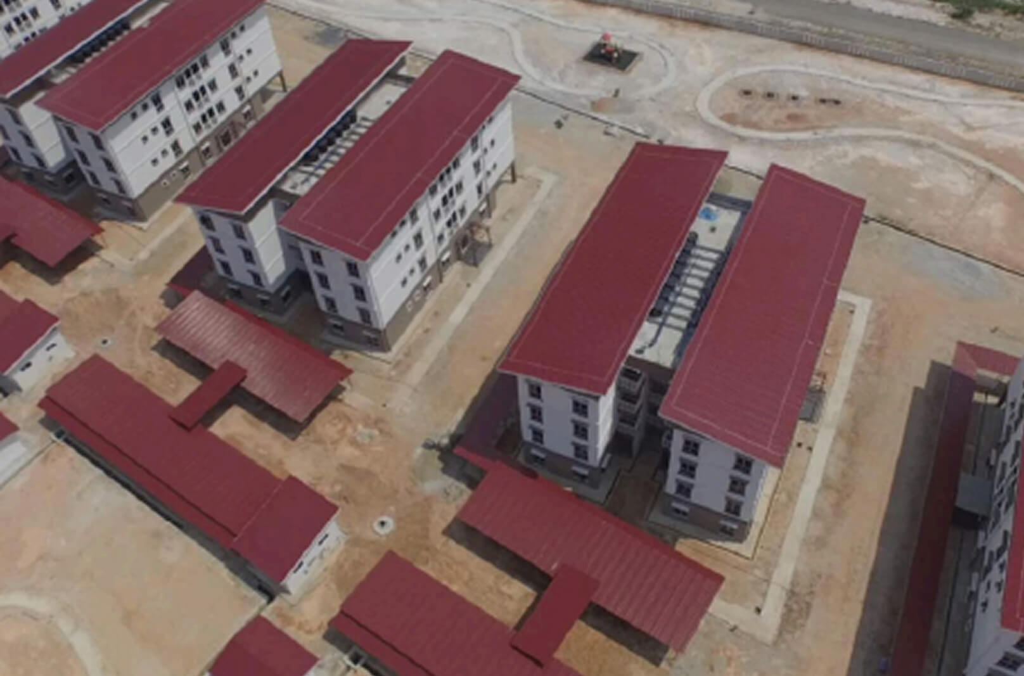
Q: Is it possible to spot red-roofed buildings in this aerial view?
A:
Yes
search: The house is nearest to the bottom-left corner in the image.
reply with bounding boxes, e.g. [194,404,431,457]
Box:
[0,416,41,485]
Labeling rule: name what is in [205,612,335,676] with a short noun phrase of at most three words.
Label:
house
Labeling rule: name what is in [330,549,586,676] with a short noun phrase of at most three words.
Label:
building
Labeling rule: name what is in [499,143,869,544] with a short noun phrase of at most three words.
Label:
building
